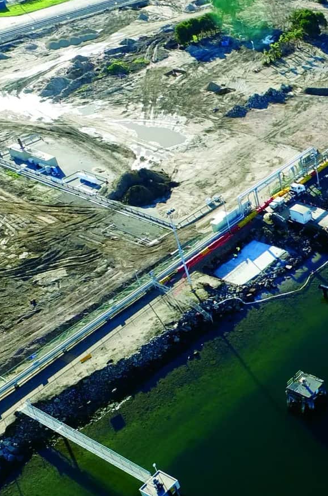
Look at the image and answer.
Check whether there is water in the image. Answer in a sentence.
Yes, some water is visible.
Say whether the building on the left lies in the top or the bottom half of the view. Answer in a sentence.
You can find the building on the left in the top half.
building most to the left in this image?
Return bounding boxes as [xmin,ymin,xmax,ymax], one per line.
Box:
[6,144,65,174]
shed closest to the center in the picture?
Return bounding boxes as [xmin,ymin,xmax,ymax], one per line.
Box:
[204,196,250,233]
